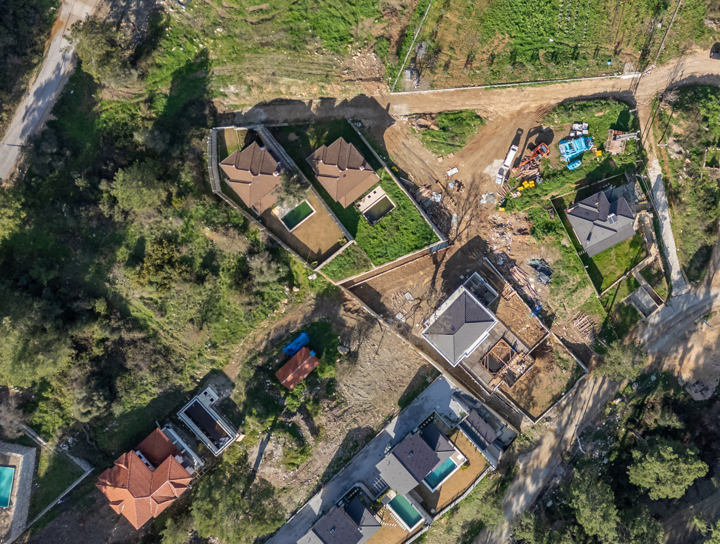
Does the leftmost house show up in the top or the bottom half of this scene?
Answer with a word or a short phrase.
bottom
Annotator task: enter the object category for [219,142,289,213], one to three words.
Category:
house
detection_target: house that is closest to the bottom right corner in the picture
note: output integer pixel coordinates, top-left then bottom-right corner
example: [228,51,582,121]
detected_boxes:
[450,389,516,467]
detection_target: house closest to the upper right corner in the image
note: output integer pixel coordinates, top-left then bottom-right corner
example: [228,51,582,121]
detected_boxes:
[567,187,636,257]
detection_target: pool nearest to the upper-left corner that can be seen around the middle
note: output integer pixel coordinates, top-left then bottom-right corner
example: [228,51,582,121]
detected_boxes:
[273,199,316,232]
